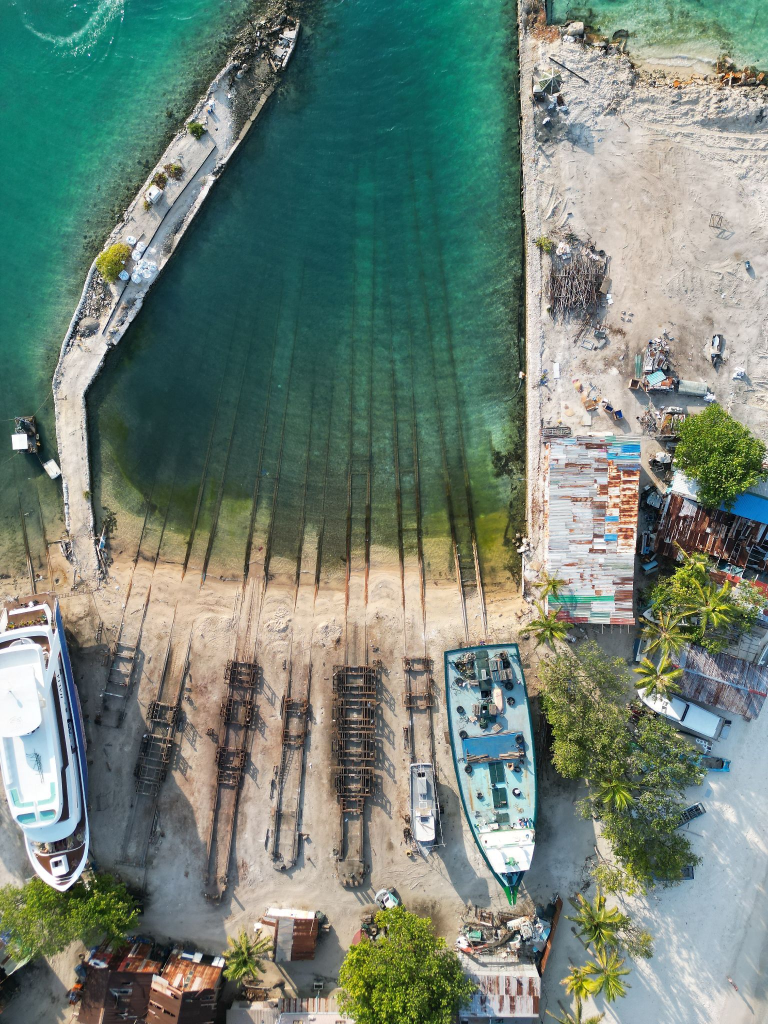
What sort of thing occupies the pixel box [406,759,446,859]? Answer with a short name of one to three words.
boat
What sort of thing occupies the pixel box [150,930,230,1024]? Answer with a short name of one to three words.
house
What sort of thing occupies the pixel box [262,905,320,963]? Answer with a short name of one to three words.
shed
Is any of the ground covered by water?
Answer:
Yes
